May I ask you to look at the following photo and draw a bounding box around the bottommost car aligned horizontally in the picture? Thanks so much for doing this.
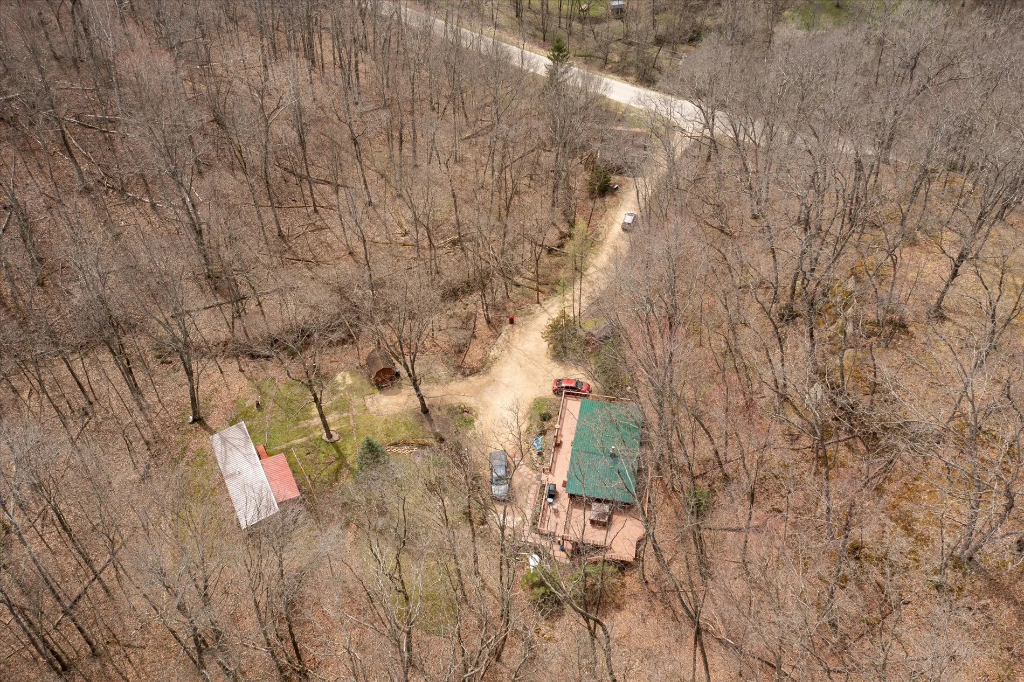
[552,376,592,394]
